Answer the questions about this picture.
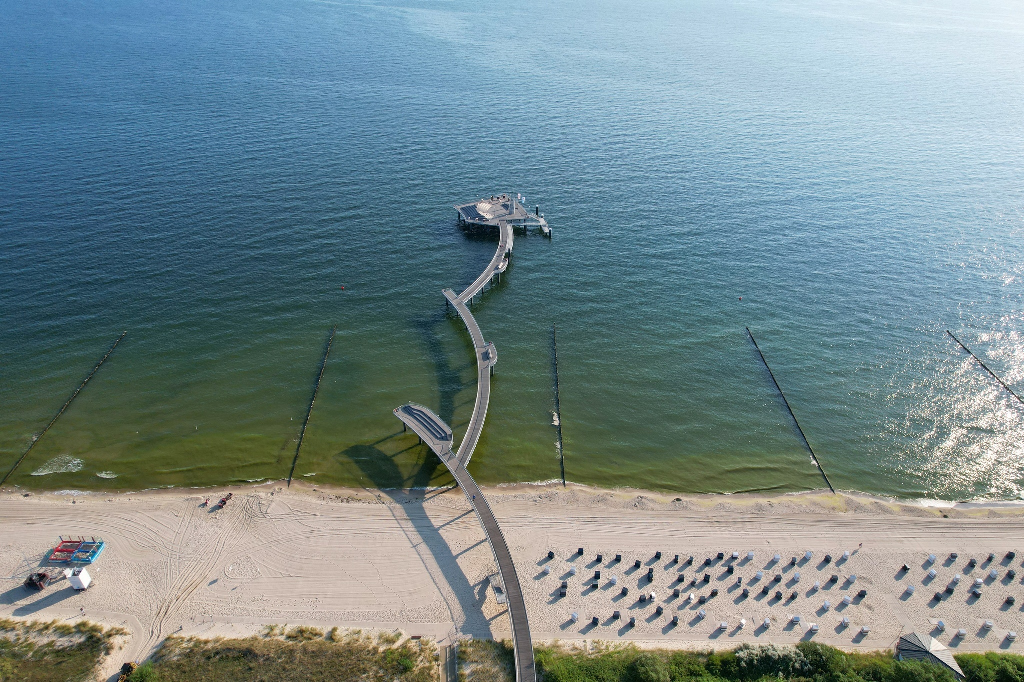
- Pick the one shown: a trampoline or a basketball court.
trampoline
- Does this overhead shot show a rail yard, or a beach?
beach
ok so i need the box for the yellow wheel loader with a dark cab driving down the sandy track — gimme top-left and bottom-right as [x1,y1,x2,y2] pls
[113,656,141,682]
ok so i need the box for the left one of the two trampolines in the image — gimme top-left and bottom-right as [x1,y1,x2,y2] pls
[0,546,57,591]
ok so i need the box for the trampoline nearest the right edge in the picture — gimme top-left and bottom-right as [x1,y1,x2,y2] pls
[45,535,104,563]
